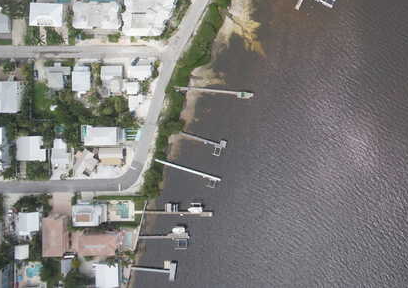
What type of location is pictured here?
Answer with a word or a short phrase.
residential area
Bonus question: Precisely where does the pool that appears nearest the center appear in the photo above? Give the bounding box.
[124,127,141,142]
